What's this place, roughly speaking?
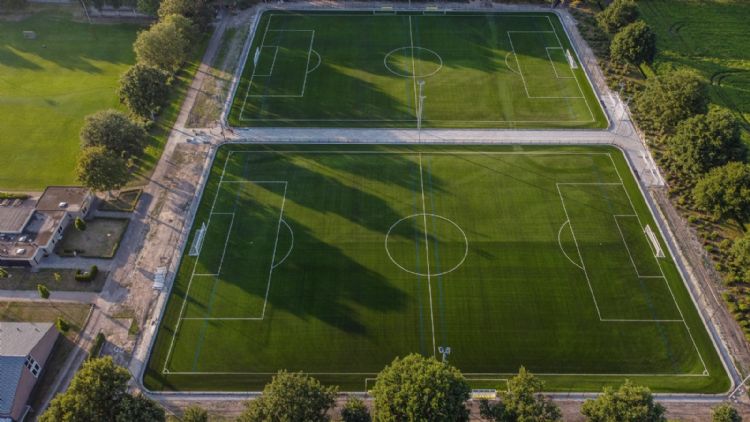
sports ground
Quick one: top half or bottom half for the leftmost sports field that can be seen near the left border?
top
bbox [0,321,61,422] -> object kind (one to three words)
building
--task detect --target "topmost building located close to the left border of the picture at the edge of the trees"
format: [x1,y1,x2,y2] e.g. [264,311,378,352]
[0,187,94,270]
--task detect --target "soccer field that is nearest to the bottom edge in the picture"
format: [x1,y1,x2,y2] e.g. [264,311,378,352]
[141,142,732,397]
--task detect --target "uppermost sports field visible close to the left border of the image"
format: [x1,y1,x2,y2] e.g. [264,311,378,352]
[0,14,212,187]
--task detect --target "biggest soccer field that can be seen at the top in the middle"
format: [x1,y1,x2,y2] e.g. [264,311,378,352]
[224,8,609,130]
